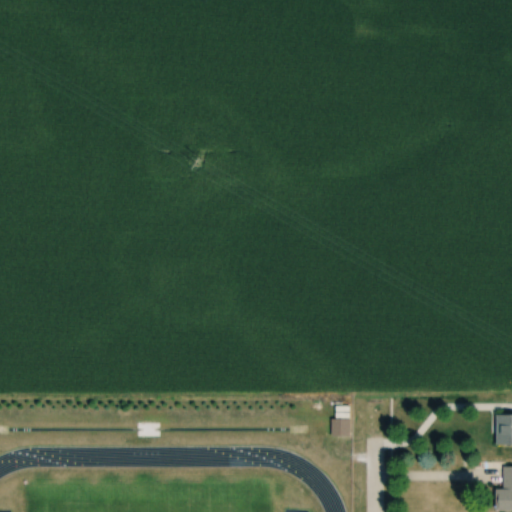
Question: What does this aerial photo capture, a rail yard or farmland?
farmland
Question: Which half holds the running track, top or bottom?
bottom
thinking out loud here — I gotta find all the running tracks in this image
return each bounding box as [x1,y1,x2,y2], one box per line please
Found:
[0,448,345,512]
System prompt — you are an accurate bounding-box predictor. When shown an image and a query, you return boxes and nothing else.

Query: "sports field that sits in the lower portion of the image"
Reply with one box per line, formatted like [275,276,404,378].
[20,470,286,512]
